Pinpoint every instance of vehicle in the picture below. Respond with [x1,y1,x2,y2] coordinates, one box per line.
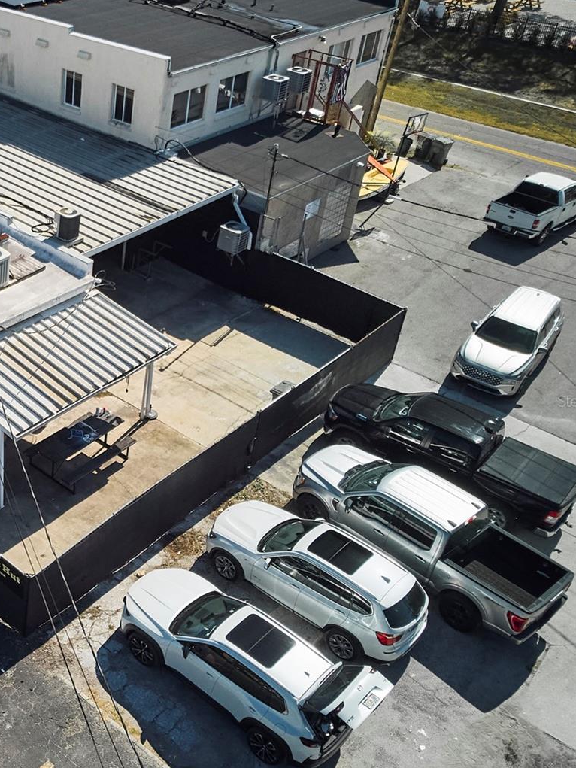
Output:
[454,289,576,398]
[480,167,576,240]
[209,497,444,667]
[276,446,576,649]
[320,376,576,537]
[127,570,403,768]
